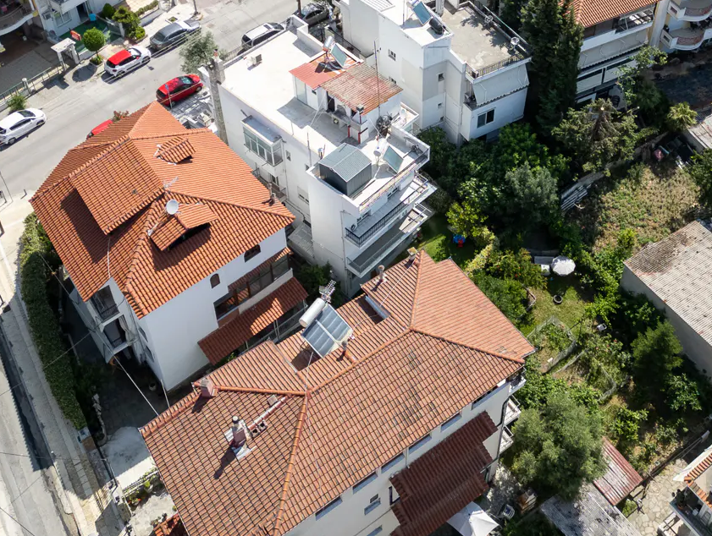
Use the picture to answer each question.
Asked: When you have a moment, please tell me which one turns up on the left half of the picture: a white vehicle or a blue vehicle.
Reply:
white vehicle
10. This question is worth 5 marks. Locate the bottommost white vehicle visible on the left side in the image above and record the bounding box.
[0,100,49,139]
